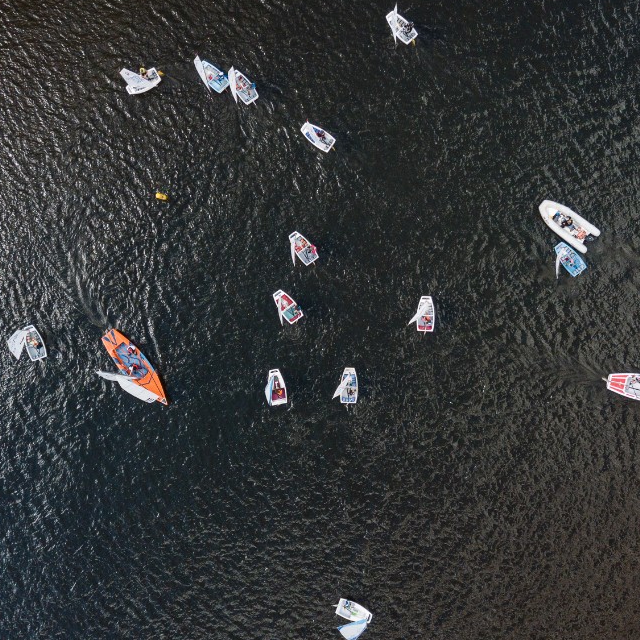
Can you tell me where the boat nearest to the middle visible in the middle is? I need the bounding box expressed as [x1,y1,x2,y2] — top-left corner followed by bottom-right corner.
[273,289,304,324]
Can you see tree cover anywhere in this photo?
No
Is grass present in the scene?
No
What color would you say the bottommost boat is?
white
